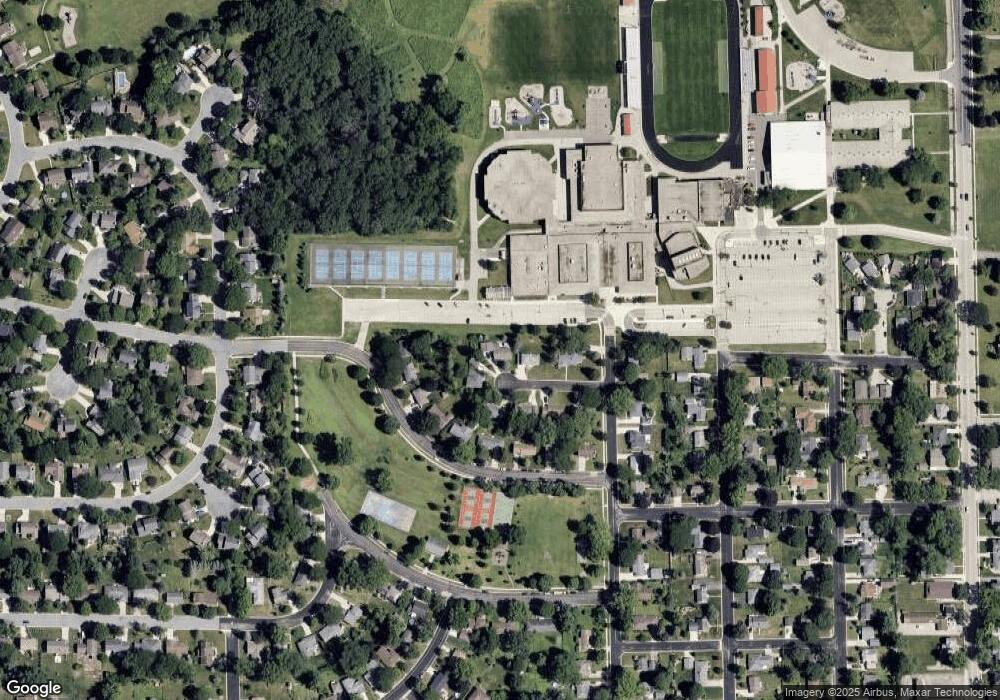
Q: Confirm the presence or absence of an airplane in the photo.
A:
No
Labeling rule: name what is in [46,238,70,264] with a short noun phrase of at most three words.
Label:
house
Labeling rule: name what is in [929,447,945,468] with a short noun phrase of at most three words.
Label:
house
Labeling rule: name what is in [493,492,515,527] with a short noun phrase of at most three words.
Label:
tennis court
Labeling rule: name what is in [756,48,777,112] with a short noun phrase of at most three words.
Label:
building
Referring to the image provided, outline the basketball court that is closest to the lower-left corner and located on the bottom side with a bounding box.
[360,491,416,532]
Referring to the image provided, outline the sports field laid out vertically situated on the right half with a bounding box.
[653,0,729,160]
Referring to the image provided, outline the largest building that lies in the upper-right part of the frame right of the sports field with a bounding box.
[764,104,831,189]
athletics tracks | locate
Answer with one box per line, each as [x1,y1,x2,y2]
[641,0,742,172]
